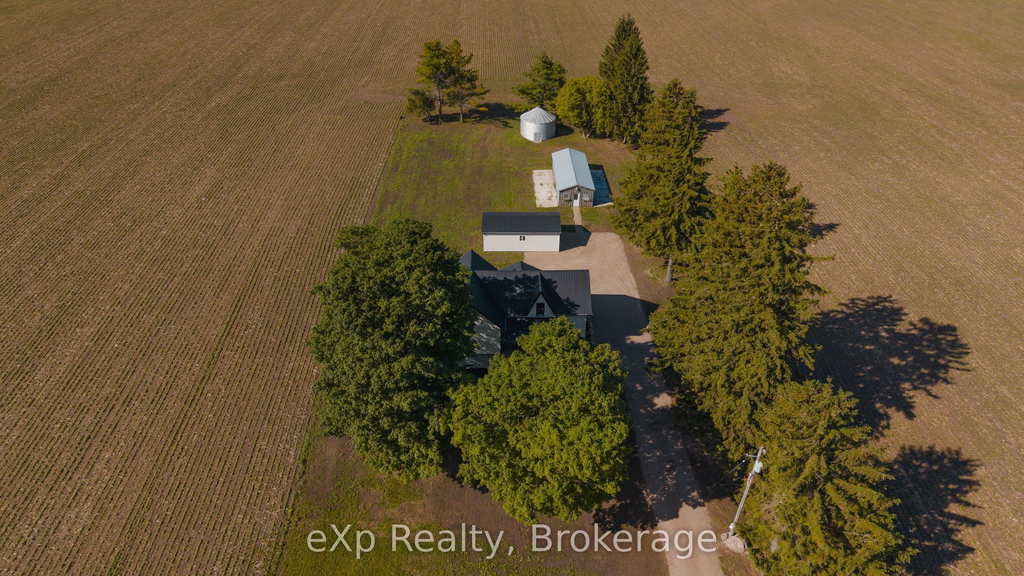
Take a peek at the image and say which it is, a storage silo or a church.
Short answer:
storage silo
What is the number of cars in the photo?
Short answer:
zero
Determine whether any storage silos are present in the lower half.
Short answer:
No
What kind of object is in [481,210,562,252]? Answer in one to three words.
building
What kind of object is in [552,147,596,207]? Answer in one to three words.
shed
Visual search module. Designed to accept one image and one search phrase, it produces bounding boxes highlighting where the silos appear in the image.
[520,106,556,143]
